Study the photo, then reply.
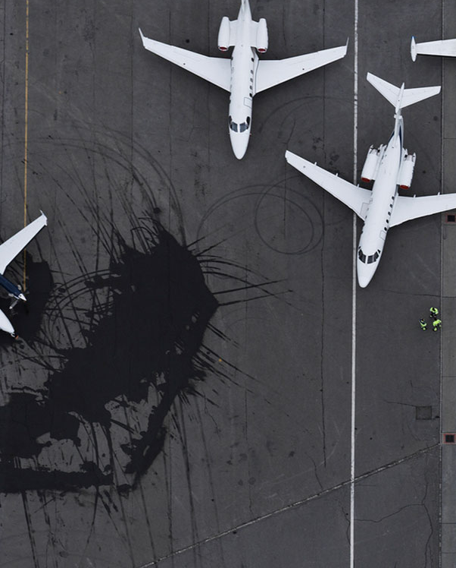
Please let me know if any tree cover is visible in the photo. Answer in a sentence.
No, the picture contains no tree cover.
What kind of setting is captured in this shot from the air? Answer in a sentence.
This image shows an airport.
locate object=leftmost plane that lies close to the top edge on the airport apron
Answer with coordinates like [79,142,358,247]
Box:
[139,0,348,161]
